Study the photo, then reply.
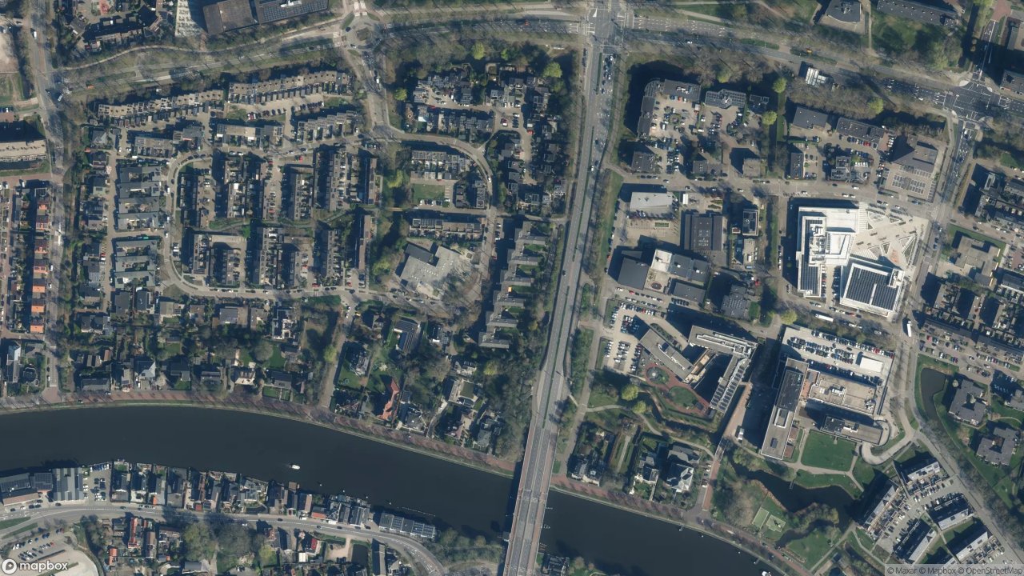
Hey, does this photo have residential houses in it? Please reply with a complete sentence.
Yes, there's a residential house here.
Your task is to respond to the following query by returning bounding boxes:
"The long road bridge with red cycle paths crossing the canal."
[503,470,555,576]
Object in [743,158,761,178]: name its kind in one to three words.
building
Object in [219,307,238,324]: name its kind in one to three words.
house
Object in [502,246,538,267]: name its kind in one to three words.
house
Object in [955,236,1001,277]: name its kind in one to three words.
building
